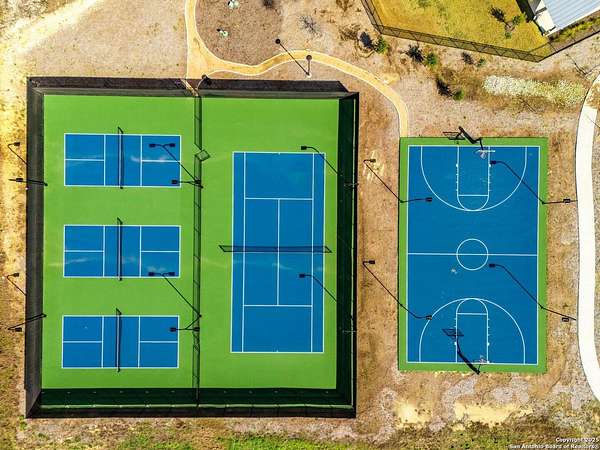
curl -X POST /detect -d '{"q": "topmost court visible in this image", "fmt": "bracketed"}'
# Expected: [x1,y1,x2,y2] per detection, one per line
[64,134,180,187]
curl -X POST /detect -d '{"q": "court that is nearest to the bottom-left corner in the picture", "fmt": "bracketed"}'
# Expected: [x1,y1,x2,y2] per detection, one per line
[63,316,178,370]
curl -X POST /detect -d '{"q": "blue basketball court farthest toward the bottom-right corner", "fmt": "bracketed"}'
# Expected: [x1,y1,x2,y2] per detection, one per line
[398,136,548,373]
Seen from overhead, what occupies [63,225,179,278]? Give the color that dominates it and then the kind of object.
blue sports court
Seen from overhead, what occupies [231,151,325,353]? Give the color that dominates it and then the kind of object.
blue tennis court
